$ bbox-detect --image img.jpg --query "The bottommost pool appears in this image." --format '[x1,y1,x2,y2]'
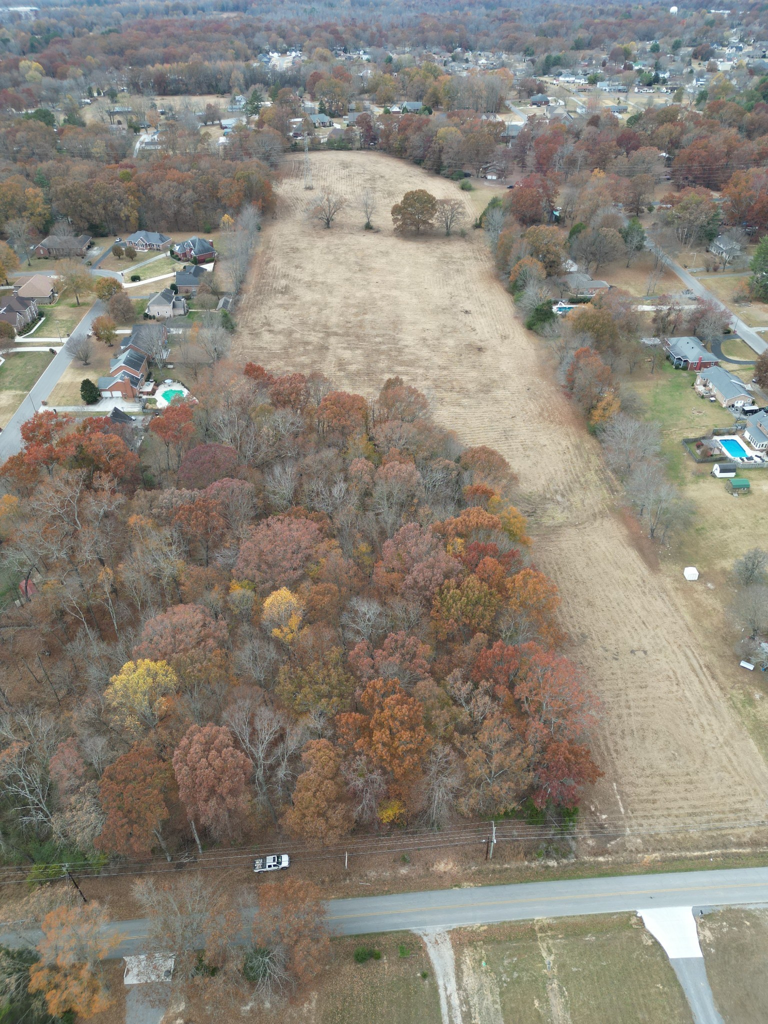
[719,439,750,458]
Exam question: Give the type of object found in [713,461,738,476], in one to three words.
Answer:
shed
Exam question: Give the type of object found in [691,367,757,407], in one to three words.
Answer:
house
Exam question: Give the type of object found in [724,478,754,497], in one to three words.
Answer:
building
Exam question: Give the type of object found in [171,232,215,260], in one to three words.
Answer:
house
